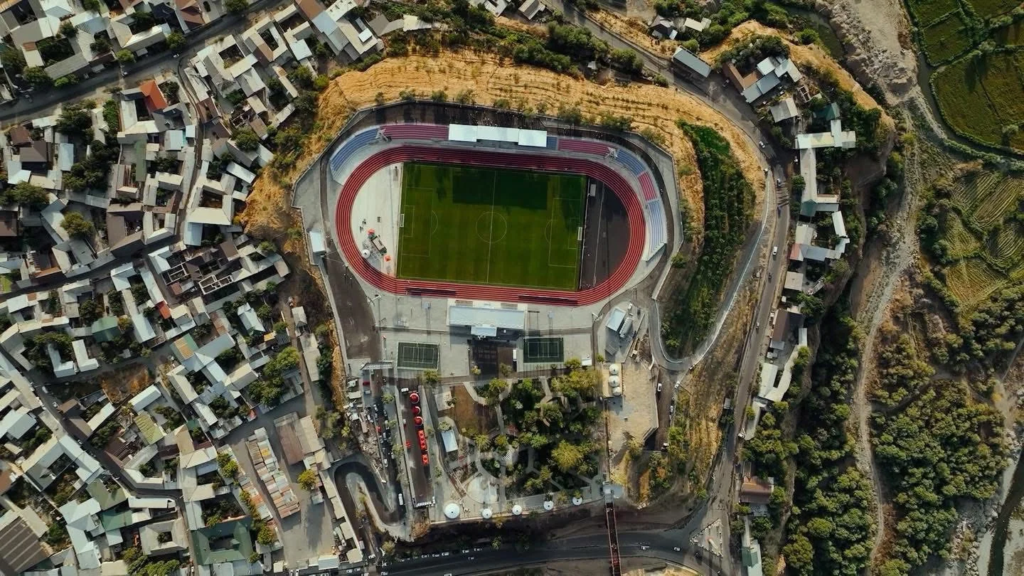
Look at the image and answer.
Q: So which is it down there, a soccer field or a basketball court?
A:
soccer field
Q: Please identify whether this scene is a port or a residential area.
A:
residential area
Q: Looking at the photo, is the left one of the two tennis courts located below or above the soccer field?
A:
below it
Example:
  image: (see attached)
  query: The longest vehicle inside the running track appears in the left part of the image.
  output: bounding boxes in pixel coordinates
[369,234,387,252]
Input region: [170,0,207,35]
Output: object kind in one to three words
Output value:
house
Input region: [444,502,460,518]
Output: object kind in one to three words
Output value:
umbrella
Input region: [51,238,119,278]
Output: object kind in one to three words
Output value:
house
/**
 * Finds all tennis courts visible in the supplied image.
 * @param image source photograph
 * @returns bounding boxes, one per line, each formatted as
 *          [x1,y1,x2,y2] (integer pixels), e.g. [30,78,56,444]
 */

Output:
[524,338,564,363]
[397,342,440,370]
